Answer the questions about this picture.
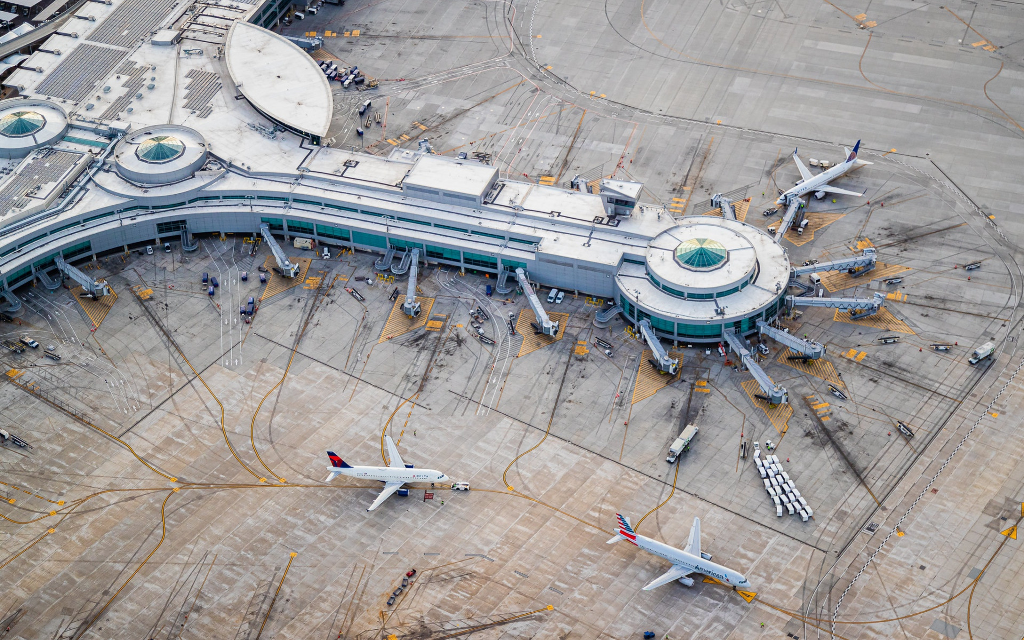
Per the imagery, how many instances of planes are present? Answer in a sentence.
Looking from above, you can make out 3 planes.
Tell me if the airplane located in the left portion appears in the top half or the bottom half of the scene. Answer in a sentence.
The airplane located in the left portion is in the bottom half of the image.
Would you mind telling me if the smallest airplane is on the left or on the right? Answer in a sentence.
The smallest airplane is on the right side of the image.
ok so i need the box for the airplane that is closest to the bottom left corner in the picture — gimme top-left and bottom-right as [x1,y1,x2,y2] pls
[326,434,449,512]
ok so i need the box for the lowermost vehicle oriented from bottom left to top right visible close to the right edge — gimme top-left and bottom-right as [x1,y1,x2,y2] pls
[968,343,997,365]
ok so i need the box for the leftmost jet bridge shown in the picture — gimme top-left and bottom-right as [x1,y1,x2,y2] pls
[56,261,113,300]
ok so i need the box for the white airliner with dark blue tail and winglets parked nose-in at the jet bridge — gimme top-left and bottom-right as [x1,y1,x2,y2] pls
[776,139,873,206]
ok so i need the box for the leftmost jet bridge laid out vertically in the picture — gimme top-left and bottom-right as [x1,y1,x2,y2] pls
[401,251,423,318]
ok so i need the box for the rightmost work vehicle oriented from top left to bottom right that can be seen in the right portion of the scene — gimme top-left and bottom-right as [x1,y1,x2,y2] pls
[897,421,914,436]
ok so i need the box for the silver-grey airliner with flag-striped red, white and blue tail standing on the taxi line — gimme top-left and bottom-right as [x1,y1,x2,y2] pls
[607,514,751,591]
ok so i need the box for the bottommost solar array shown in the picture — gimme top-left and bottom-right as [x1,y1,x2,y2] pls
[0,149,81,217]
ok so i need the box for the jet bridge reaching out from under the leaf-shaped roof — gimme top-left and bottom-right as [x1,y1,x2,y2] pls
[271,28,326,53]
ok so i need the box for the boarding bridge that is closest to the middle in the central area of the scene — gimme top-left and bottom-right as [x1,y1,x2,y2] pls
[514,270,561,338]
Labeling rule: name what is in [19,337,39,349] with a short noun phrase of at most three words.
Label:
vehicle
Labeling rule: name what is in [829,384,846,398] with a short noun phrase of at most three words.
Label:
work vehicle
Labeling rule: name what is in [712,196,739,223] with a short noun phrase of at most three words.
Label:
jet bridge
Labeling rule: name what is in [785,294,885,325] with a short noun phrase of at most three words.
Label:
jet bridge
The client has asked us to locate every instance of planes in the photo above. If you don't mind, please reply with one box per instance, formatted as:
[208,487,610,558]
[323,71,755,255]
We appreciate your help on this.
[607,514,751,591]
[326,434,449,512]
[776,139,873,206]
